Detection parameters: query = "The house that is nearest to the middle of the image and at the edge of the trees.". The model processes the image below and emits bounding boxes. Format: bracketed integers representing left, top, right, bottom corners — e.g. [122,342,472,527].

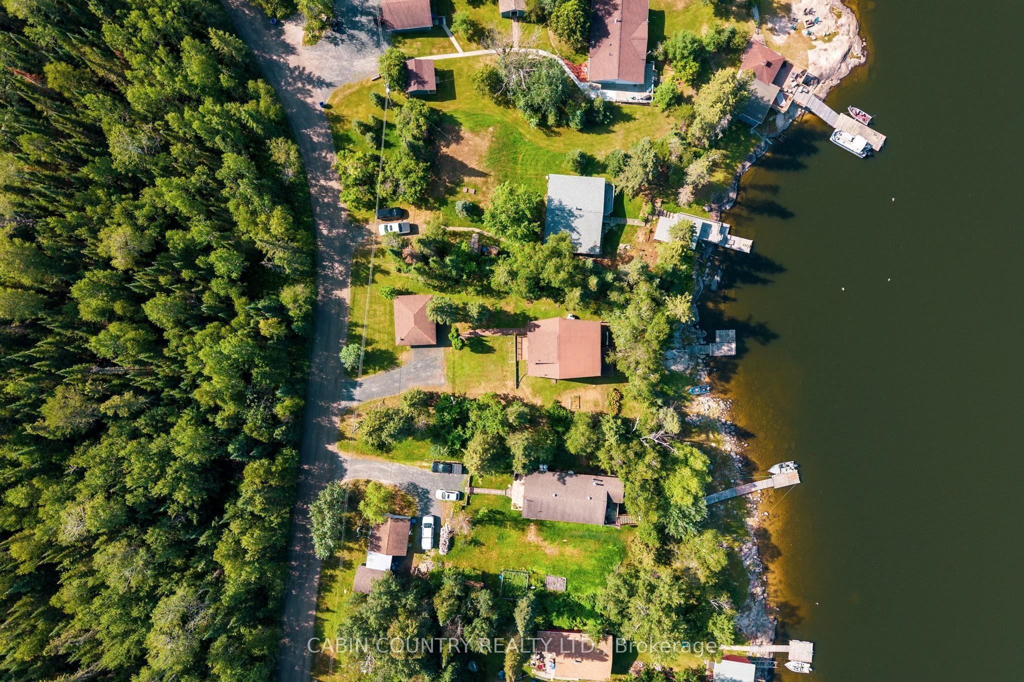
[527,321,602,376]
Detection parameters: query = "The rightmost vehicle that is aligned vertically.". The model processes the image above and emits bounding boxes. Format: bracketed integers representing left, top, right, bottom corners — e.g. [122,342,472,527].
[421,515,436,551]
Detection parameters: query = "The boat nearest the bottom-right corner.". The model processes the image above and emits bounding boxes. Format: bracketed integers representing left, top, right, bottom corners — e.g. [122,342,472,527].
[783,661,816,674]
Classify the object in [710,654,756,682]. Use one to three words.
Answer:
building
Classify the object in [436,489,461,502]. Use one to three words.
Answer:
vehicle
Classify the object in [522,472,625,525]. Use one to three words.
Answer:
house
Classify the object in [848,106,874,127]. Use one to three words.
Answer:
boat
